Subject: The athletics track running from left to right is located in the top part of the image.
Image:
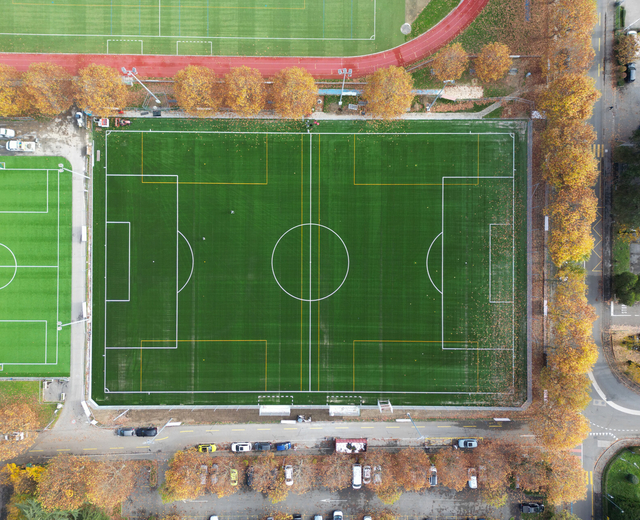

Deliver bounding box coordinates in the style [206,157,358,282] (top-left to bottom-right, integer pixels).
[0,0,487,79]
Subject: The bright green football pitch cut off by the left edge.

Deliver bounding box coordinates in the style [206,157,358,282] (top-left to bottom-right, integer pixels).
[0,156,71,380]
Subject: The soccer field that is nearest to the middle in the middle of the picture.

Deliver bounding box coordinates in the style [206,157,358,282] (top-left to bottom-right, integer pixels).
[91,118,531,409]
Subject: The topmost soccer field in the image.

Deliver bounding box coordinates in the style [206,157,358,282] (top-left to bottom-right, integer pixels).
[0,0,406,57]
